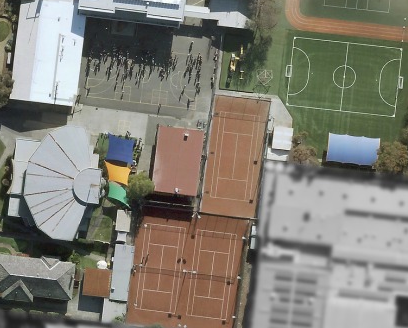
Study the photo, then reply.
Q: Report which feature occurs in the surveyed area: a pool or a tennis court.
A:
tennis court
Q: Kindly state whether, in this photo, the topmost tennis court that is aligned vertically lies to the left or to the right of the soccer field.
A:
left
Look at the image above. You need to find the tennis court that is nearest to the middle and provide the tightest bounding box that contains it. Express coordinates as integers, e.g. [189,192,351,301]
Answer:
[202,96,270,216]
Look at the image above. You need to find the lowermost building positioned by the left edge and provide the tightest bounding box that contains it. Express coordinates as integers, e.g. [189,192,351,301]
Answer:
[0,252,75,306]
